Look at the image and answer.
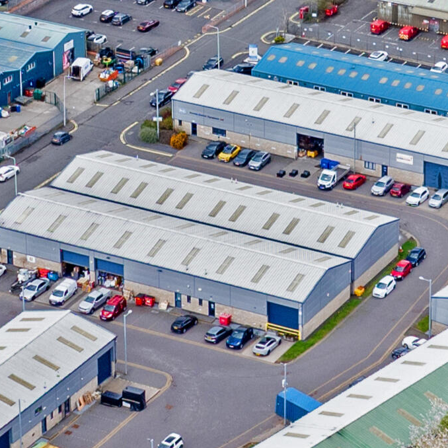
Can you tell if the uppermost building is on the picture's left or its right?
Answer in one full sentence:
The uppermost building is on the right side of the image.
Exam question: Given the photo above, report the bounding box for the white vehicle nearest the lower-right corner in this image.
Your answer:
[398,335,426,349]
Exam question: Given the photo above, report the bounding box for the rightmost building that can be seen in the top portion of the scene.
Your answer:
[375,0,448,31]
